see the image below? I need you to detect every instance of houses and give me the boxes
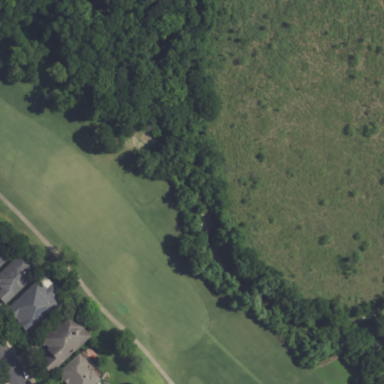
[48,318,89,370]
[12,284,57,328]
[62,356,100,384]
[0,261,35,304]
